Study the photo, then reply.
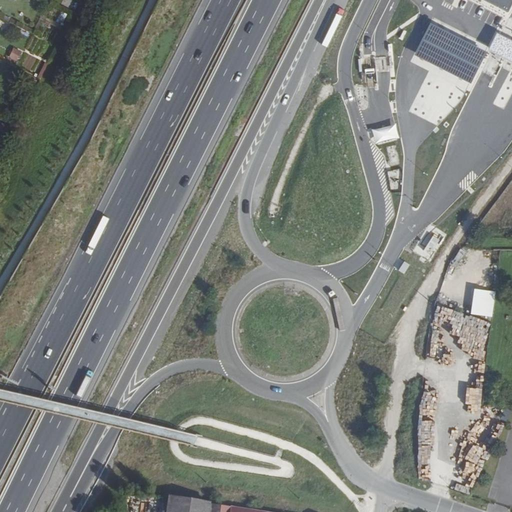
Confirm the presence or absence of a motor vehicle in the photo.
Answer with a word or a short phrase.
Yes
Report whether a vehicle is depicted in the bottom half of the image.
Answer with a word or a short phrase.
Yes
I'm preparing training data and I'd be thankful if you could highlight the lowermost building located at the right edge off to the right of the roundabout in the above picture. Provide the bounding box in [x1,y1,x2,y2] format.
[472,289,496,318]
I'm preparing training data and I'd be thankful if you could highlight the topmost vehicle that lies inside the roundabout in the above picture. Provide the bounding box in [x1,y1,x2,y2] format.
[326,290,343,330]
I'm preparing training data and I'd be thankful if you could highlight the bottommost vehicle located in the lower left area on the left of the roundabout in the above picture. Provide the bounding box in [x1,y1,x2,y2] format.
[70,371,94,408]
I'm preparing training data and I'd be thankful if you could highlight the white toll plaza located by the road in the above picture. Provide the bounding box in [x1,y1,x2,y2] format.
[358,44,396,112]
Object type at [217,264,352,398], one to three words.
roundabout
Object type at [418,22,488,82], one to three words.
building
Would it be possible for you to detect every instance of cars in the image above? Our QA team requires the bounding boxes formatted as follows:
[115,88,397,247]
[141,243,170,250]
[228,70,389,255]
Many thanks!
[91,332,100,344]
[270,386,282,392]
[476,5,484,16]
[204,10,213,22]
[194,48,204,61]
[365,36,370,46]
[281,94,290,106]
[180,175,190,188]
[422,2,433,10]
[166,90,174,102]
[234,70,242,82]
[494,14,504,27]
[44,347,52,358]
[346,88,354,101]
[244,20,254,34]
[243,200,248,212]
[459,0,468,10]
